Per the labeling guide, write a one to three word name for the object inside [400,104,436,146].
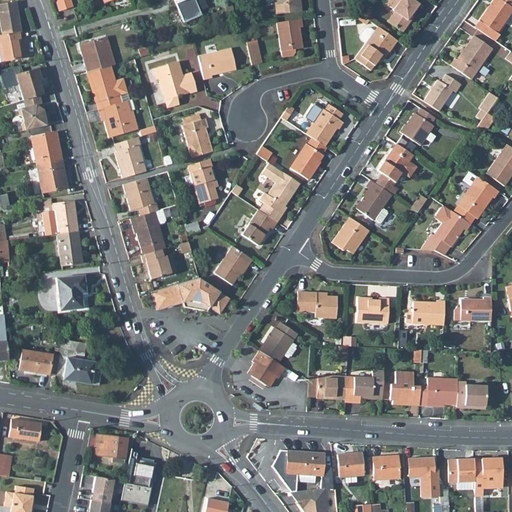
house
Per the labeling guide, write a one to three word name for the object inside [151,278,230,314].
building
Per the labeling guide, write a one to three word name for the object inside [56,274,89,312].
house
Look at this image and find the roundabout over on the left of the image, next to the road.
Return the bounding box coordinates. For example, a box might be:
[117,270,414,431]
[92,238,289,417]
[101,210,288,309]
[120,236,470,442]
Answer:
[138,364,252,462]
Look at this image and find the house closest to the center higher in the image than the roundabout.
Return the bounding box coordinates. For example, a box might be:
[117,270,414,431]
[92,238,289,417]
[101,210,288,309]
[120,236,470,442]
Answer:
[212,248,252,286]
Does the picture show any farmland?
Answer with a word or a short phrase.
No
